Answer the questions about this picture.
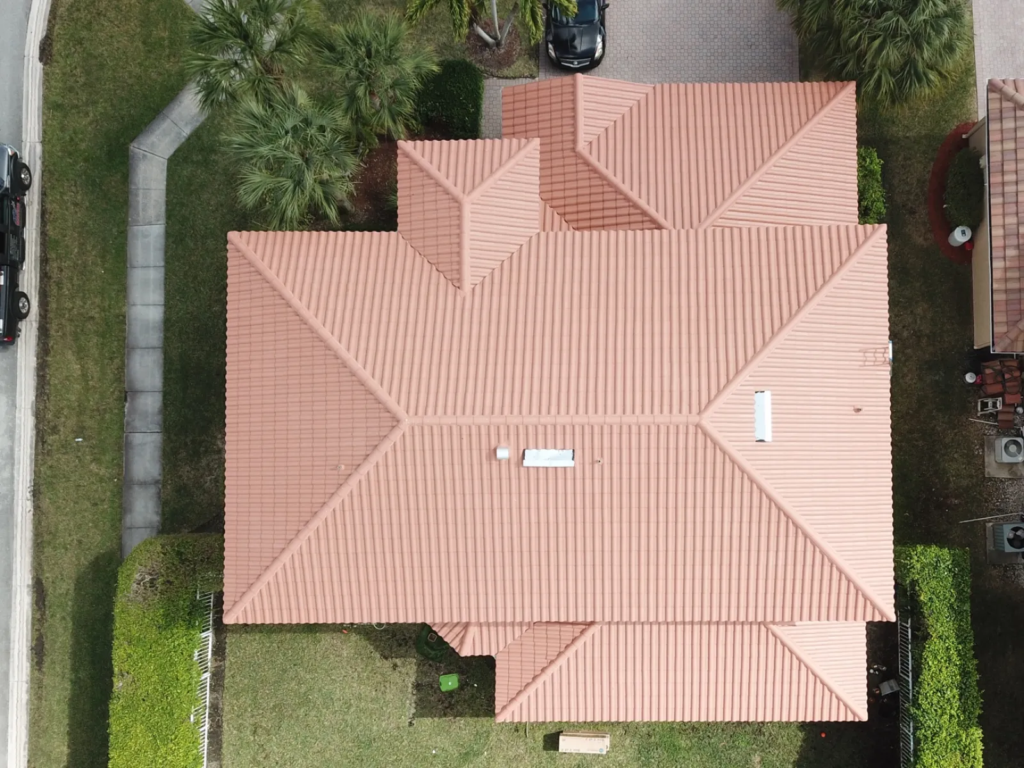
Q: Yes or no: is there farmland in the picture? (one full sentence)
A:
No, the scene doesn't show any farmland.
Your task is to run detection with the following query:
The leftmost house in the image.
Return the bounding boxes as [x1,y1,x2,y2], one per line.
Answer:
[217,72,902,726]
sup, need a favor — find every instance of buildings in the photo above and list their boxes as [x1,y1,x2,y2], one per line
[967,75,1024,358]
[217,72,902,726]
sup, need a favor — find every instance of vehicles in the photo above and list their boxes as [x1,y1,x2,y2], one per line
[0,141,32,352]
[546,0,611,68]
